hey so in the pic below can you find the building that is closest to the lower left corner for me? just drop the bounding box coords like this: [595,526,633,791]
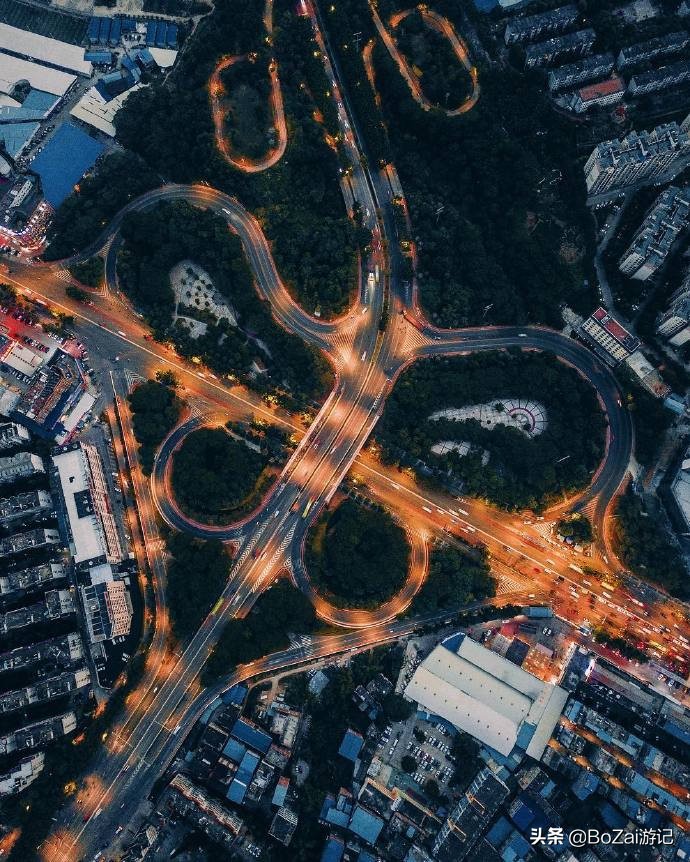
[0,749,50,799]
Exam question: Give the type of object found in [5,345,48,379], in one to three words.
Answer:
building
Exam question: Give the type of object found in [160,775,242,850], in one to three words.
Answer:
building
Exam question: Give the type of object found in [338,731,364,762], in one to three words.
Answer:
house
